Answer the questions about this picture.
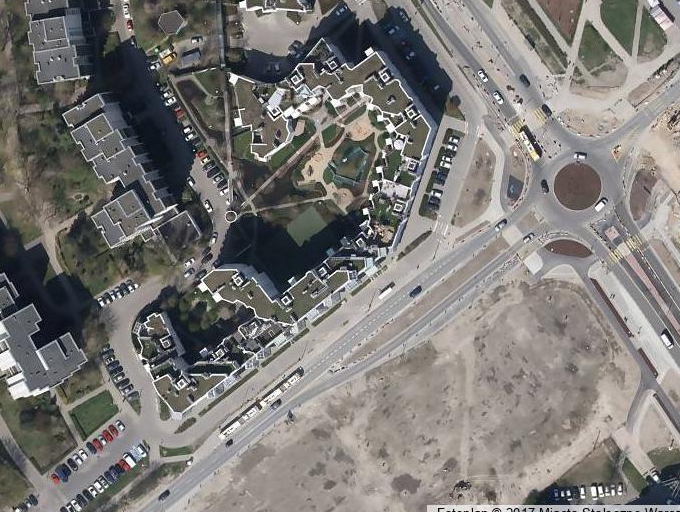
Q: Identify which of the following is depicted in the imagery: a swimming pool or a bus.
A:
bus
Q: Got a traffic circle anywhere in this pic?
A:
Yes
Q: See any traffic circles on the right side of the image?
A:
Yes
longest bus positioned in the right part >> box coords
[516,125,543,161]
